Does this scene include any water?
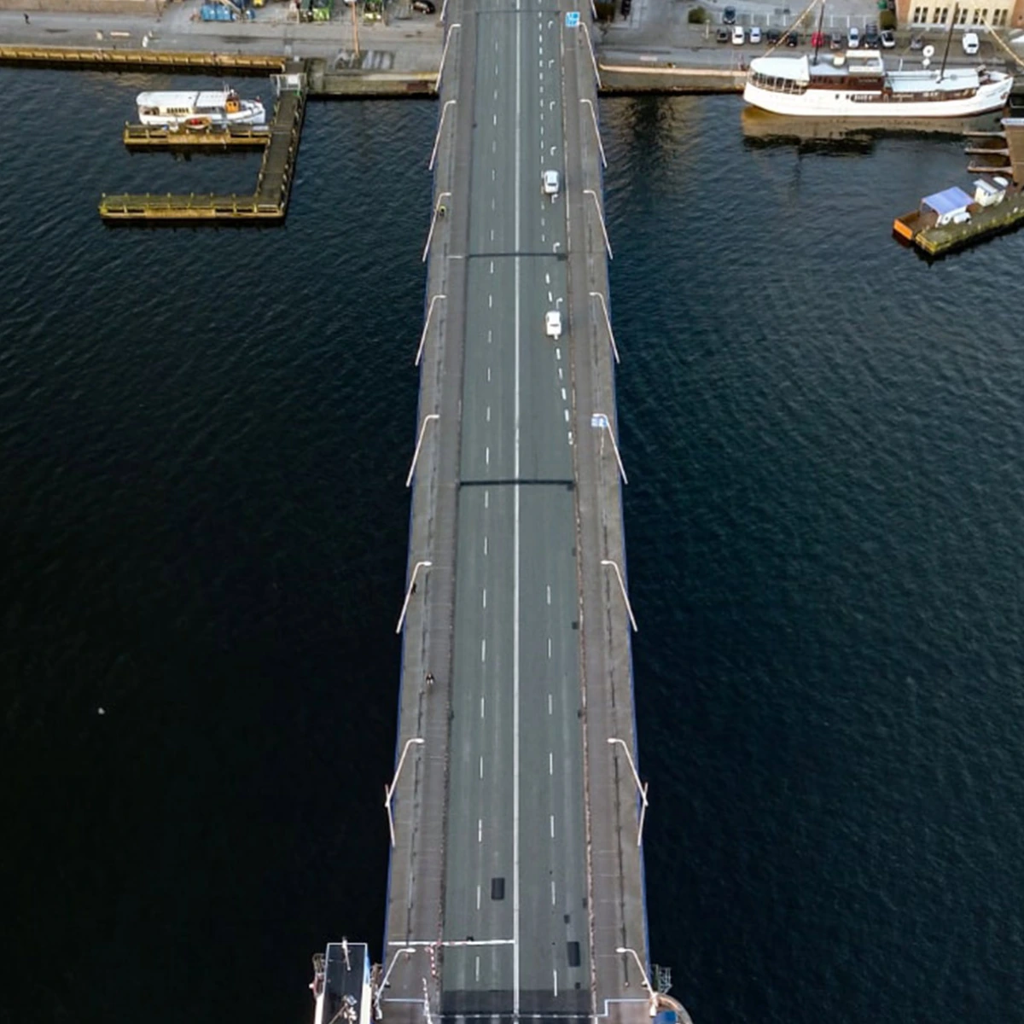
Yes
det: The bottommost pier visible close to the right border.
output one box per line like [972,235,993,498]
[911,195,1024,260]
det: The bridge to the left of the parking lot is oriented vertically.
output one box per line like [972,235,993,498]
[376,0,655,1024]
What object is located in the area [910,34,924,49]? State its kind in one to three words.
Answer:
car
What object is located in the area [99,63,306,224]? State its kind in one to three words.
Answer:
pier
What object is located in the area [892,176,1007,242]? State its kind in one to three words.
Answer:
vessel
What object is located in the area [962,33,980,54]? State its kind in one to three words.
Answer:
vehicle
